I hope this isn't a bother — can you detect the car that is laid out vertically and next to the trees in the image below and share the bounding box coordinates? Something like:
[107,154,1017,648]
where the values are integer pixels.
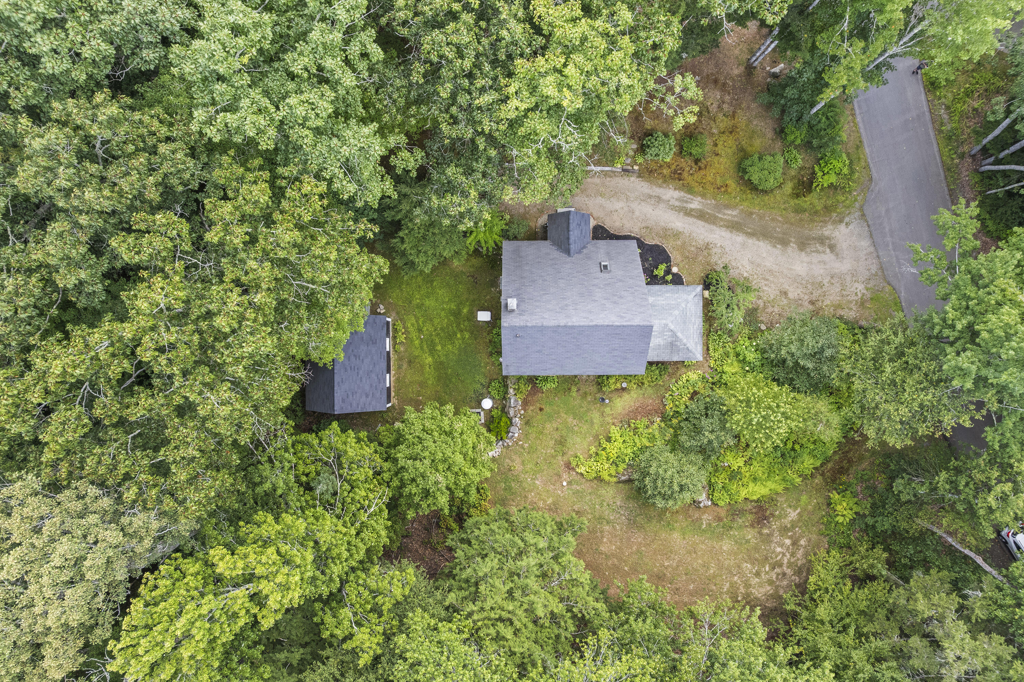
[1004,523,1024,571]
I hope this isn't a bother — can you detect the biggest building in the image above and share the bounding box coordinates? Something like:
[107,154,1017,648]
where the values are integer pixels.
[499,210,703,374]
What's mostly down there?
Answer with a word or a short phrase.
trees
